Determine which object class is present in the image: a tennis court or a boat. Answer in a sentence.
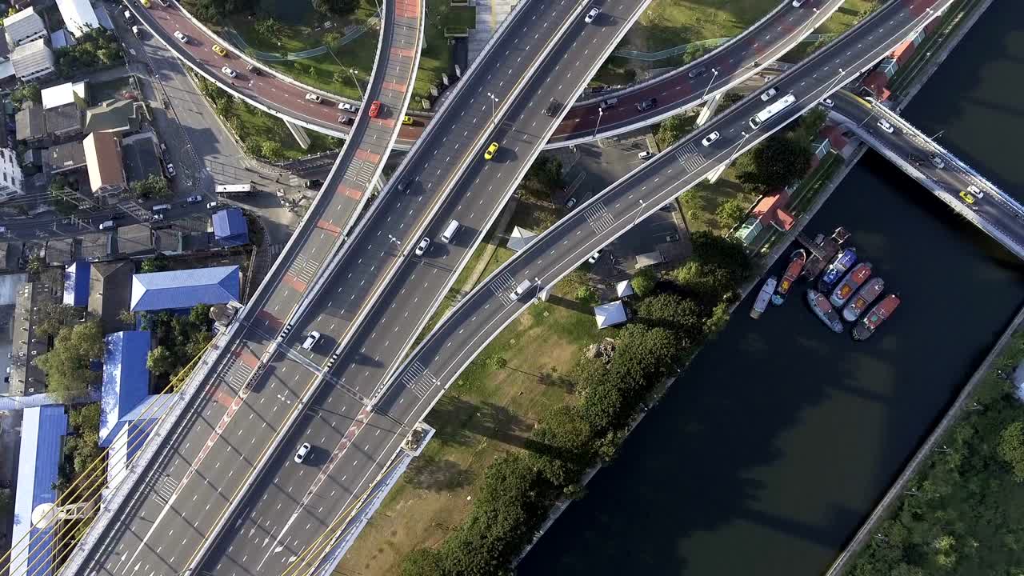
Visible in the photo is a boat.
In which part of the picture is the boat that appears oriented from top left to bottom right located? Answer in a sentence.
The boat that appears oriented from top left to bottom right appears toward the right of the photo.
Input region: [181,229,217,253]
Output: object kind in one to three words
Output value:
house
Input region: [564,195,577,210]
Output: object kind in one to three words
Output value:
vehicle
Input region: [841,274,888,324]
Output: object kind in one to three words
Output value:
boat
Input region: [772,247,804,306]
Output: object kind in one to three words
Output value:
boat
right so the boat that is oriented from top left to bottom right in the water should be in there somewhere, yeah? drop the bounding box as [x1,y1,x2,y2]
[805,286,845,333]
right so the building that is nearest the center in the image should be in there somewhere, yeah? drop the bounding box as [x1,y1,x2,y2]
[506,225,537,254]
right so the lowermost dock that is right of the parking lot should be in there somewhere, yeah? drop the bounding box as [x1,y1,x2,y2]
[799,229,850,282]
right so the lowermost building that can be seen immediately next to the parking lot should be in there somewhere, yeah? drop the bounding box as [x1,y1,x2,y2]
[594,300,626,330]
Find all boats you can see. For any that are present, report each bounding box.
[817,245,857,293]
[841,274,888,324]
[829,260,875,308]
[851,292,904,343]
[805,286,845,333]
[750,274,777,320]
[772,247,804,306]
